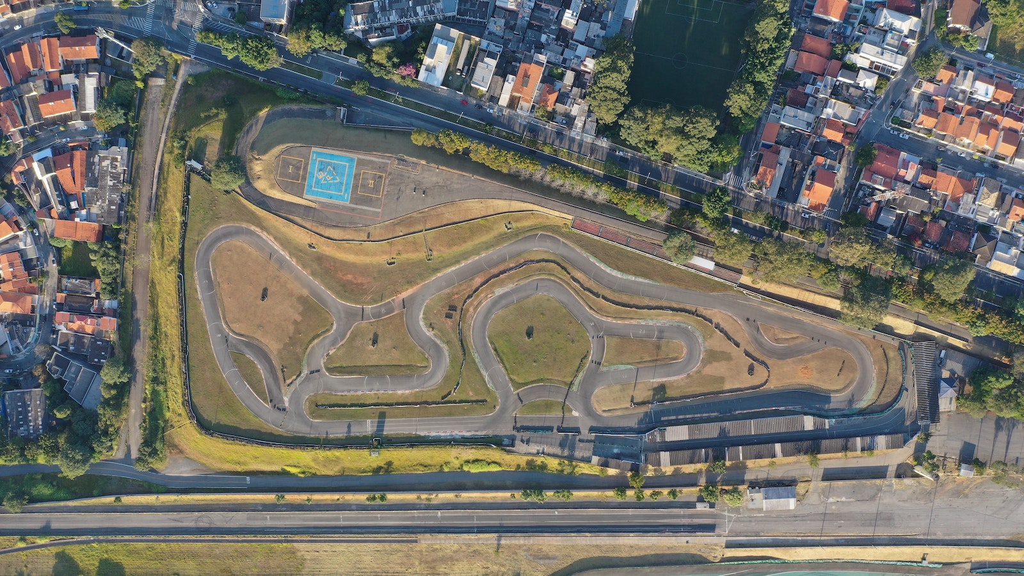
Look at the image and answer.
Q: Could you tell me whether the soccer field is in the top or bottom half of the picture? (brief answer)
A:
top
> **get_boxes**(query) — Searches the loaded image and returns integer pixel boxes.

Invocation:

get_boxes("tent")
[939,376,960,398]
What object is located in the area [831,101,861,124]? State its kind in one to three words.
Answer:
house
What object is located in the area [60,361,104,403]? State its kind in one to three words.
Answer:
house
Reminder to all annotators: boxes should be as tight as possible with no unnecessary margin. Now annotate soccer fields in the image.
[629,0,757,125]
